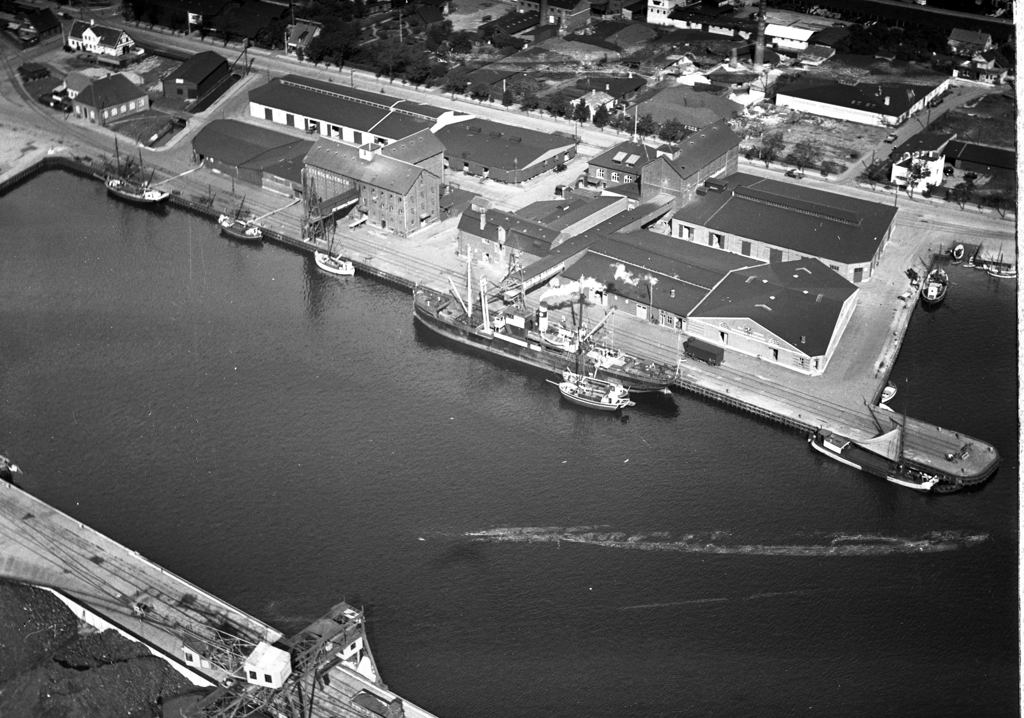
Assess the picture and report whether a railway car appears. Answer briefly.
Yes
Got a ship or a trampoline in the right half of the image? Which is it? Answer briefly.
ship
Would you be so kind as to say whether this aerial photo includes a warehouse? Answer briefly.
Yes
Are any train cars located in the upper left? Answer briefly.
No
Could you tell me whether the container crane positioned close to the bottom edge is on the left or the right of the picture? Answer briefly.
left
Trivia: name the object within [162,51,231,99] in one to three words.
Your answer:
barn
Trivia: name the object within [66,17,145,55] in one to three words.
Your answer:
house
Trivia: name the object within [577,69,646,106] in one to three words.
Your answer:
shed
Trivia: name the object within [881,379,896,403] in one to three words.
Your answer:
boat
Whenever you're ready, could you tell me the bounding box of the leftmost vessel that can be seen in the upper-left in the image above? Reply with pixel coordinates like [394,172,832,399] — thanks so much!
[100,137,169,205]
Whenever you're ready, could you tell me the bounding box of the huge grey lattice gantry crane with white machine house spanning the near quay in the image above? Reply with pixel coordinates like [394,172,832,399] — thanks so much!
[131,590,394,718]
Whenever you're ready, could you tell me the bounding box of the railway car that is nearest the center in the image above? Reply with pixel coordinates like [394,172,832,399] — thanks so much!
[682,336,725,364]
